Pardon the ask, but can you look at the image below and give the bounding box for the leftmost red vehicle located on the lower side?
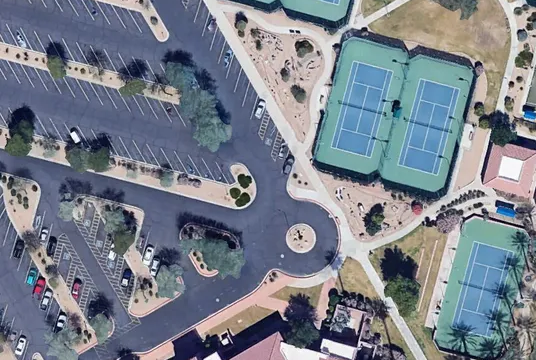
[32,275,46,297]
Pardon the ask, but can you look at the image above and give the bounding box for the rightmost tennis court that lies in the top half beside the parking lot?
[380,53,478,198]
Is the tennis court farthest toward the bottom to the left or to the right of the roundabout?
right of it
